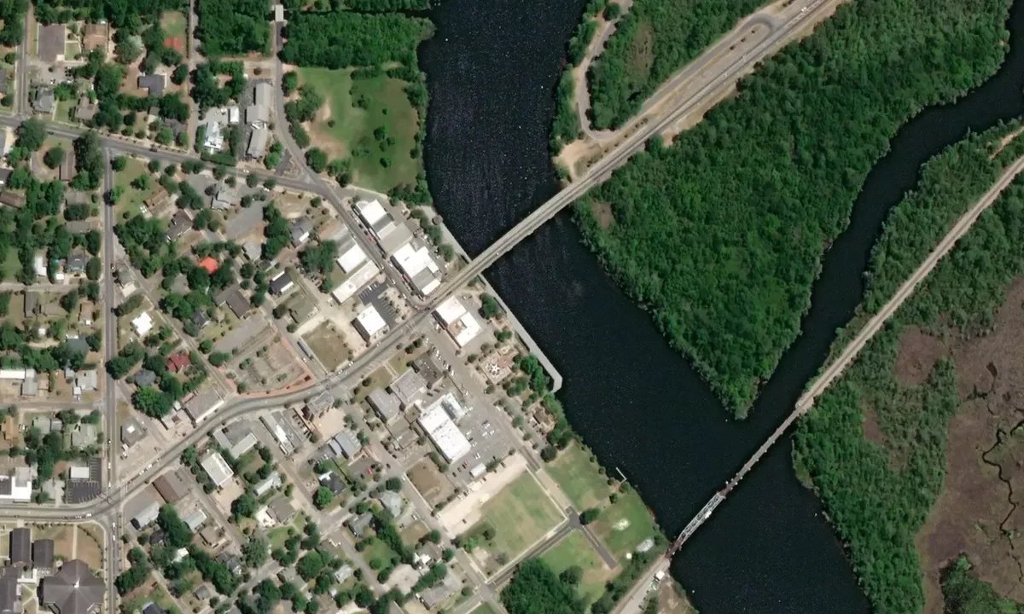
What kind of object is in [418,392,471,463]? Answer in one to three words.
building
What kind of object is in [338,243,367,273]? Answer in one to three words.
building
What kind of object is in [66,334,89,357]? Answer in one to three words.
house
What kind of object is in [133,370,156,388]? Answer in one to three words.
house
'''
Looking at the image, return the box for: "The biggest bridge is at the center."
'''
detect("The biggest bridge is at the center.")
[411,174,596,319]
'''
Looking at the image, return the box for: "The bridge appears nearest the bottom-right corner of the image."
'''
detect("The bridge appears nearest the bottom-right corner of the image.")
[667,405,802,559]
